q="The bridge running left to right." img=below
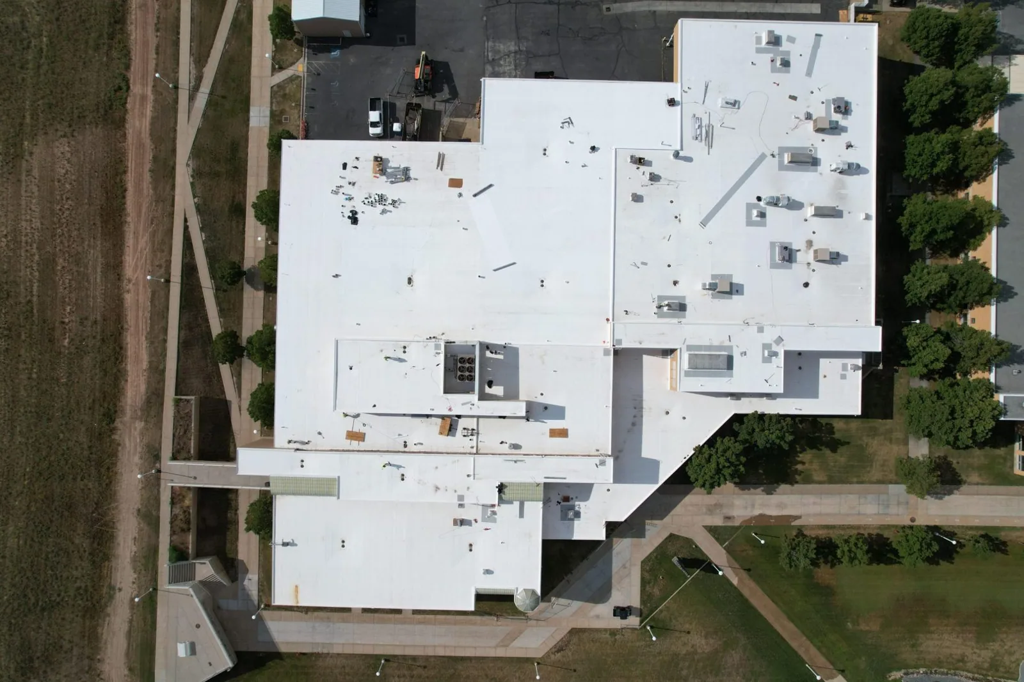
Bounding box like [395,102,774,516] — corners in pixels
[171,464,278,487]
